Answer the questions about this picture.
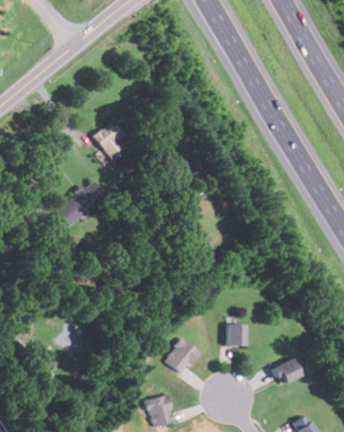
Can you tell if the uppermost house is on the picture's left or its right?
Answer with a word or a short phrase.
left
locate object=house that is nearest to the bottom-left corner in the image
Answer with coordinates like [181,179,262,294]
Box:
[144,390,174,428]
